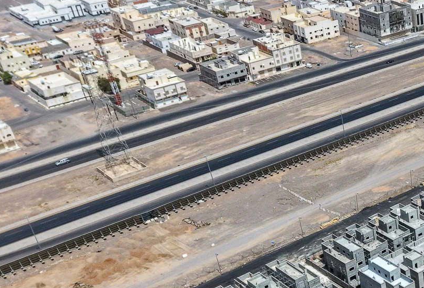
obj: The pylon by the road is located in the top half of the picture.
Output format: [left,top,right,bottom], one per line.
[75,52,135,170]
